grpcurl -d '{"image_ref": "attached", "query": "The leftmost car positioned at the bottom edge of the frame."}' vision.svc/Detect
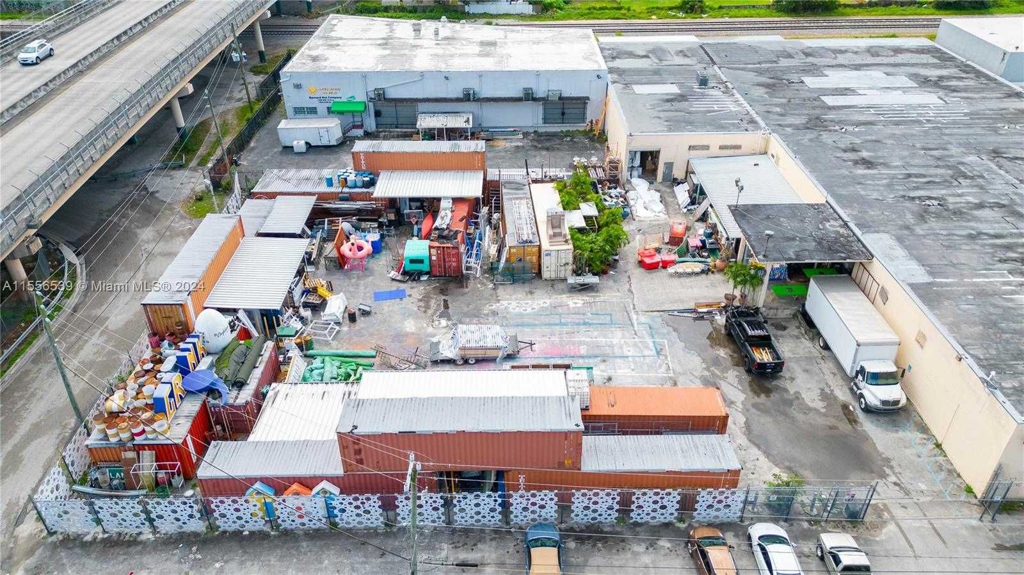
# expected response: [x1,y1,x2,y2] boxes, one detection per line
[521,525,569,575]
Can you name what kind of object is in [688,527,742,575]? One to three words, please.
car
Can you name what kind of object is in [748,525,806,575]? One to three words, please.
car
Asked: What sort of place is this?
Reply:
industrial area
